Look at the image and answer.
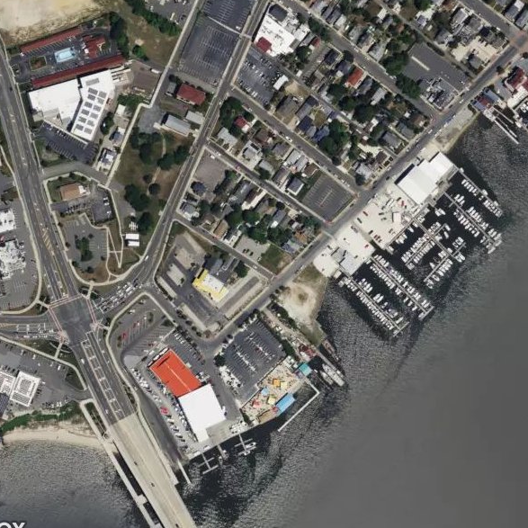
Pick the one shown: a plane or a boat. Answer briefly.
boat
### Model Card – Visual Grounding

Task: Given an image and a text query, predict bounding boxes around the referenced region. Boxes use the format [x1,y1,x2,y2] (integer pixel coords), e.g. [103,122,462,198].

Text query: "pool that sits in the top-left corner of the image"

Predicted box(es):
[54,46,76,64]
